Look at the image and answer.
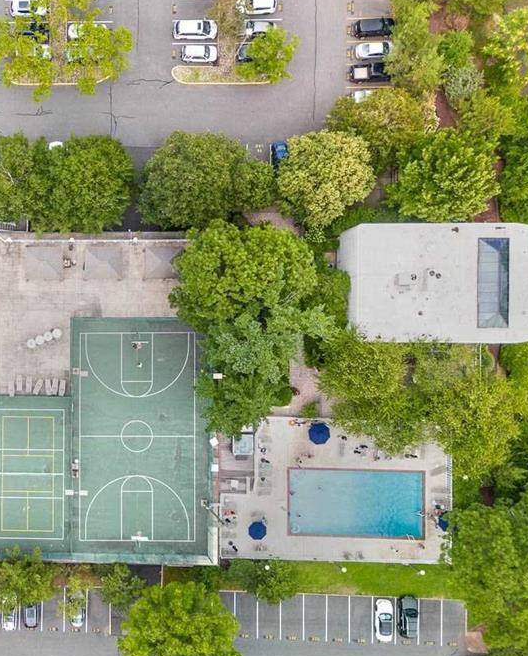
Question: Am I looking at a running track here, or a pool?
pool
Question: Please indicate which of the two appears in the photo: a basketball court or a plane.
basketball court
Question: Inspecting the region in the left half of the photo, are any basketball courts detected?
Yes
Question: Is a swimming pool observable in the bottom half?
Yes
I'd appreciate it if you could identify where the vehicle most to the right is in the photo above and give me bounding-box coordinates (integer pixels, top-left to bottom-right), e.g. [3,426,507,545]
[397,598,419,639]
